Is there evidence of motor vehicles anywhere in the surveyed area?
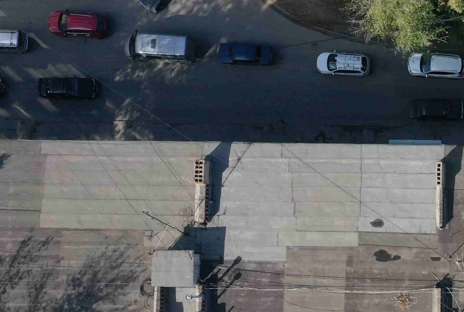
Yes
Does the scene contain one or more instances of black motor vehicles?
Yes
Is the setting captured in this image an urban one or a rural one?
urban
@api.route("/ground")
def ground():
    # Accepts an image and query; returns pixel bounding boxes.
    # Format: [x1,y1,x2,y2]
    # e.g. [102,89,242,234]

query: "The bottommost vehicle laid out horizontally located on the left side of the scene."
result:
[38,74,100,101]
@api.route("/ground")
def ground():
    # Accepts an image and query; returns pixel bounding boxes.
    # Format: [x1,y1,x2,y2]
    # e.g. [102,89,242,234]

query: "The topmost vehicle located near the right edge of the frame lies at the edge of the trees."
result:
[408,52,464,80]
